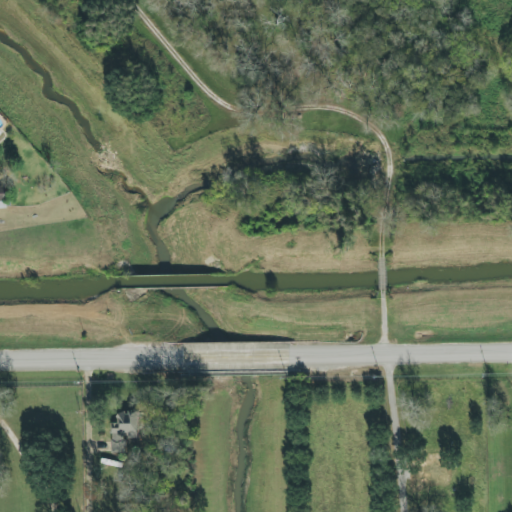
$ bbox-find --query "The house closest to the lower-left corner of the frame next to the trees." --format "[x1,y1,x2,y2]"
[110,411,139,454]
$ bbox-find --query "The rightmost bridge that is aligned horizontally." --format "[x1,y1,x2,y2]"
[180,342,292,372]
